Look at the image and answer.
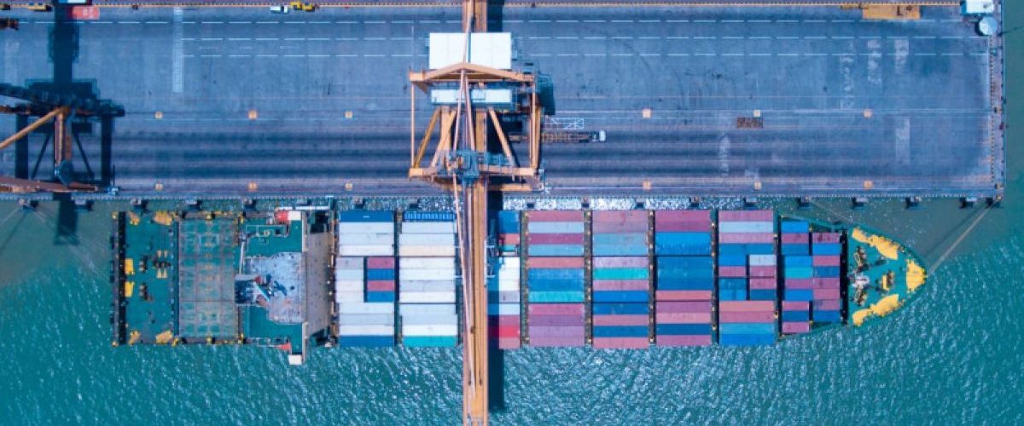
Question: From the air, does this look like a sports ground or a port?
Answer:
port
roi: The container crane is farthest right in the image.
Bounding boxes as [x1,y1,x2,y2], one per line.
[406,0,552,426]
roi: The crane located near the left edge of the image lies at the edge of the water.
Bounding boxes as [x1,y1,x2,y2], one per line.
[0,81,116,194]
